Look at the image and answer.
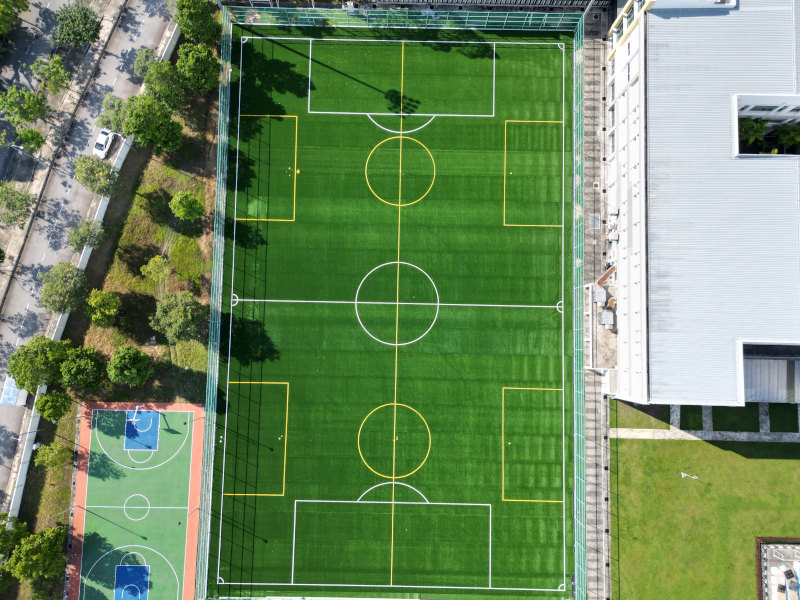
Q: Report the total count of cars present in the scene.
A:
1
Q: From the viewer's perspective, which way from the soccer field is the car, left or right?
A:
on the left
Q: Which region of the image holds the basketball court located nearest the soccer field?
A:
bottom left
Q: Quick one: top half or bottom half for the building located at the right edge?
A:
top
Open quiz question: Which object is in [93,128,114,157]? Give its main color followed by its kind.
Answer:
white car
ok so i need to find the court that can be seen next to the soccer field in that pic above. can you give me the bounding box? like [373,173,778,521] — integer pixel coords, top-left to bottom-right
[68,402,206,600]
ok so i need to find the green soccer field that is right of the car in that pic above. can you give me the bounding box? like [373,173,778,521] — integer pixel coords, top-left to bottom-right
[204,21,577,600]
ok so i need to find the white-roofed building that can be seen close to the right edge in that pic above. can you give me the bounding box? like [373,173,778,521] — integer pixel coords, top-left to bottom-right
[602,0,800,408]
